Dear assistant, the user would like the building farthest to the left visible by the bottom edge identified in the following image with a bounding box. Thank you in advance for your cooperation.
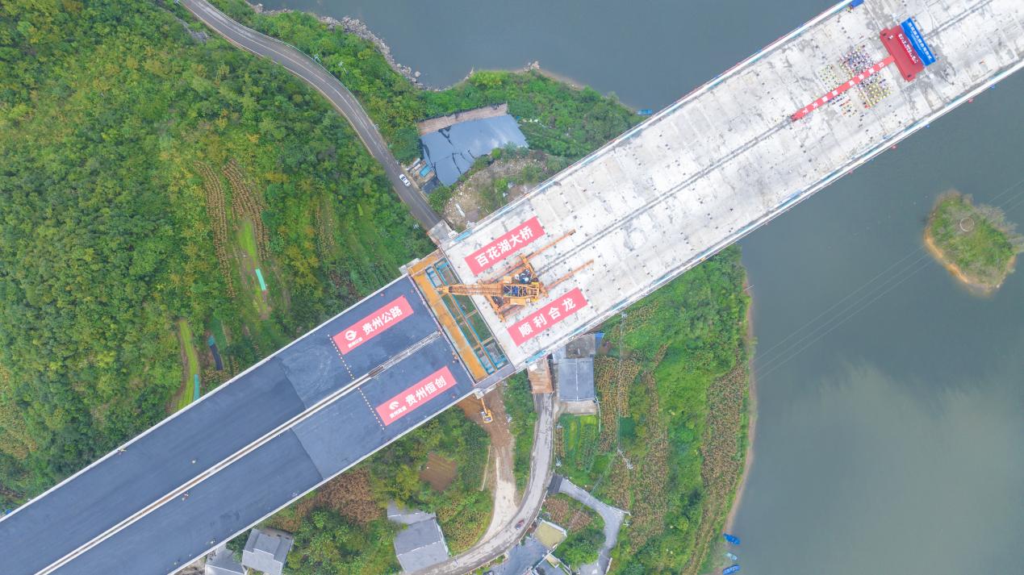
[203,542,249,575]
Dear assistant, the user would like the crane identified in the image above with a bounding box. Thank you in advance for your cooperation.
[430,248,551,322]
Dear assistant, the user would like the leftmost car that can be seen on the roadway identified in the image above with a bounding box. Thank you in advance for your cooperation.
[397,173,410,187]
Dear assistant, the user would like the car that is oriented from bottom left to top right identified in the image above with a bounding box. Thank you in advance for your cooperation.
[513,518,526,533]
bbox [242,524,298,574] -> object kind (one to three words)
house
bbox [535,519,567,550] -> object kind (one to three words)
house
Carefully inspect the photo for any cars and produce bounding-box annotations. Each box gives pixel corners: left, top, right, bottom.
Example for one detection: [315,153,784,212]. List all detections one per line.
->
[397,173,410,187]
[513,518,526,533]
